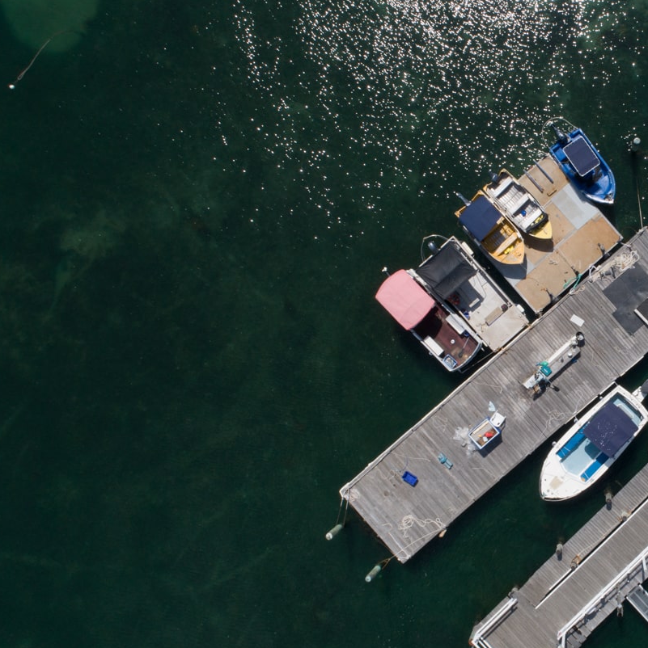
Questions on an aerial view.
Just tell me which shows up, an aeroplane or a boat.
boat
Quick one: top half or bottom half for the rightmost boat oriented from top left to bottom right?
top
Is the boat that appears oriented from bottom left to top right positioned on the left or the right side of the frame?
right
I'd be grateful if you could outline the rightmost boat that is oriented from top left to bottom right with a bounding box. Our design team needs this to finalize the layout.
[541,116,615,204]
